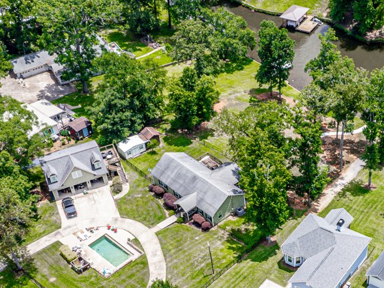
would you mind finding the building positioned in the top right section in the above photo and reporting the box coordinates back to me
[277,3,314,37]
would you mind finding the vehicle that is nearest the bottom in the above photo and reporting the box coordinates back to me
[61,197,78,220]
